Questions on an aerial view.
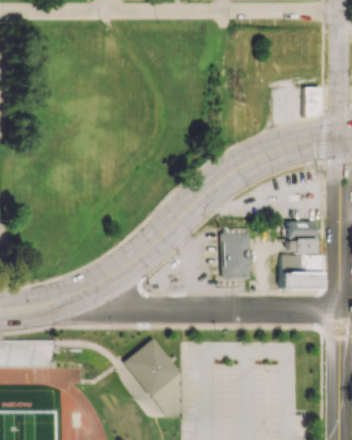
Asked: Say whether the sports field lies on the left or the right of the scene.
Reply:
left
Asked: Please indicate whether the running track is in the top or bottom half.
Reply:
bottom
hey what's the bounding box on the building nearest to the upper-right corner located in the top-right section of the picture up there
[302,86,324,118]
